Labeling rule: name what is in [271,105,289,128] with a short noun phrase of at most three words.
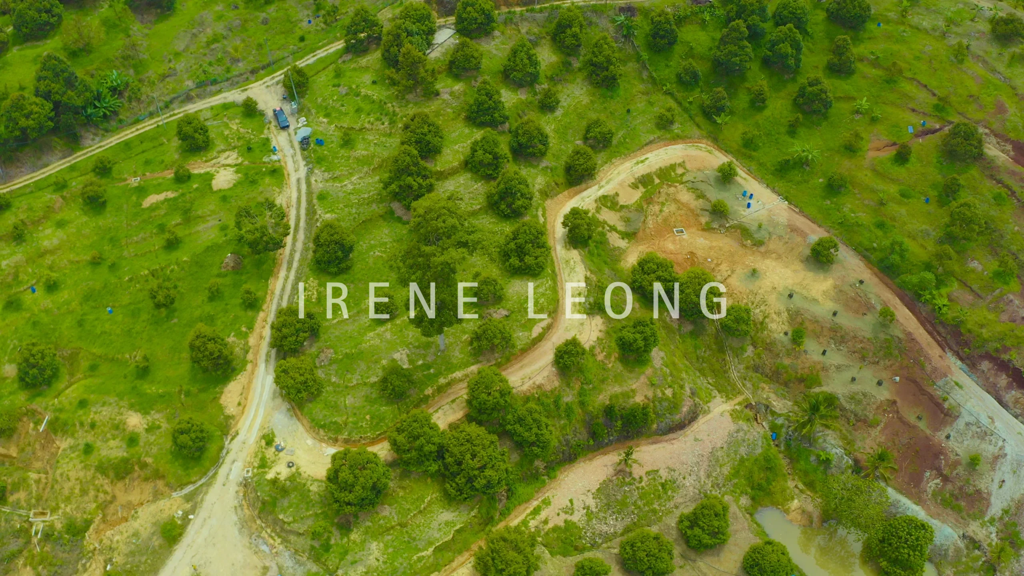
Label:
vehicle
